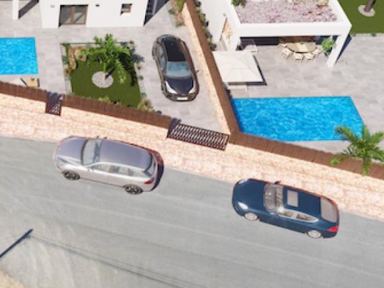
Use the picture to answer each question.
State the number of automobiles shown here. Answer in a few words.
three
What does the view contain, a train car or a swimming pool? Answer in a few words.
swimming pool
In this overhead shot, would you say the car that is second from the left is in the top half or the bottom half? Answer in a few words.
top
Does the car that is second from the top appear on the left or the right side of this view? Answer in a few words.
left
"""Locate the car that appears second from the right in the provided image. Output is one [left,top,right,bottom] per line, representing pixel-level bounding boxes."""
[151,32,202,107]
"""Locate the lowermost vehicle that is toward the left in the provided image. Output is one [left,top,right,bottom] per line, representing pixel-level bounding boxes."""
[55,134,158,197]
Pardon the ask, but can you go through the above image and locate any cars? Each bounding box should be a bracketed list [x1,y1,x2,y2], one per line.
[229,170,344,239]
[151,32,202,107]
[55,134,158,197]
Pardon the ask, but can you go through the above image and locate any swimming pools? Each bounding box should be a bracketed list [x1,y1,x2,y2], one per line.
[226,92,371,146]
[0,34,45,79]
